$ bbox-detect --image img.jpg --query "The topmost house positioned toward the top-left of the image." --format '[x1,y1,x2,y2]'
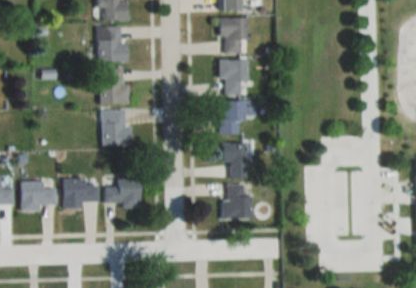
[93,0,130,22]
